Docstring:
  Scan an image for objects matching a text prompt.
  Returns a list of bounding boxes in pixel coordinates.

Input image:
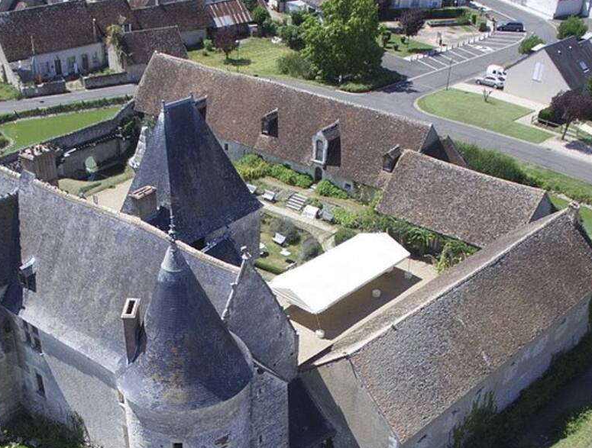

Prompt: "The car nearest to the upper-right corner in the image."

[496,18,526,32]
